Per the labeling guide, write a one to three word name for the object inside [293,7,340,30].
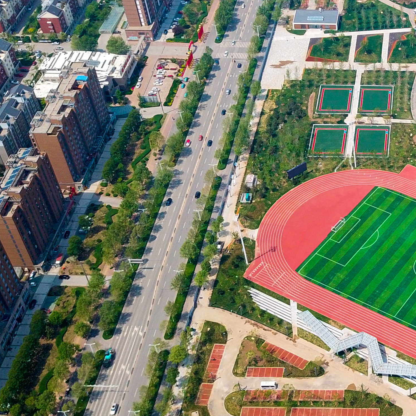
building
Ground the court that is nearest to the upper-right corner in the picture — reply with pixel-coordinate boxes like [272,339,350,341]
[356,85,395,115]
